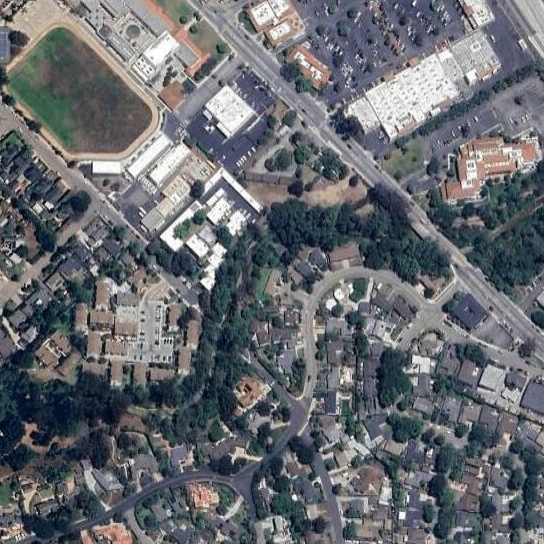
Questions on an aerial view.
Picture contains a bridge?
Yes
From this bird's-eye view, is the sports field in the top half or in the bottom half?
top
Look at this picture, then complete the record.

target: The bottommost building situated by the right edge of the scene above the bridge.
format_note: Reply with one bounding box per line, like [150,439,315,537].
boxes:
[444,136,542,201]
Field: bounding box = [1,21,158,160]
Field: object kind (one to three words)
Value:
sports field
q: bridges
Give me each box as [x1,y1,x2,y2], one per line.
[404,200,463,259]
